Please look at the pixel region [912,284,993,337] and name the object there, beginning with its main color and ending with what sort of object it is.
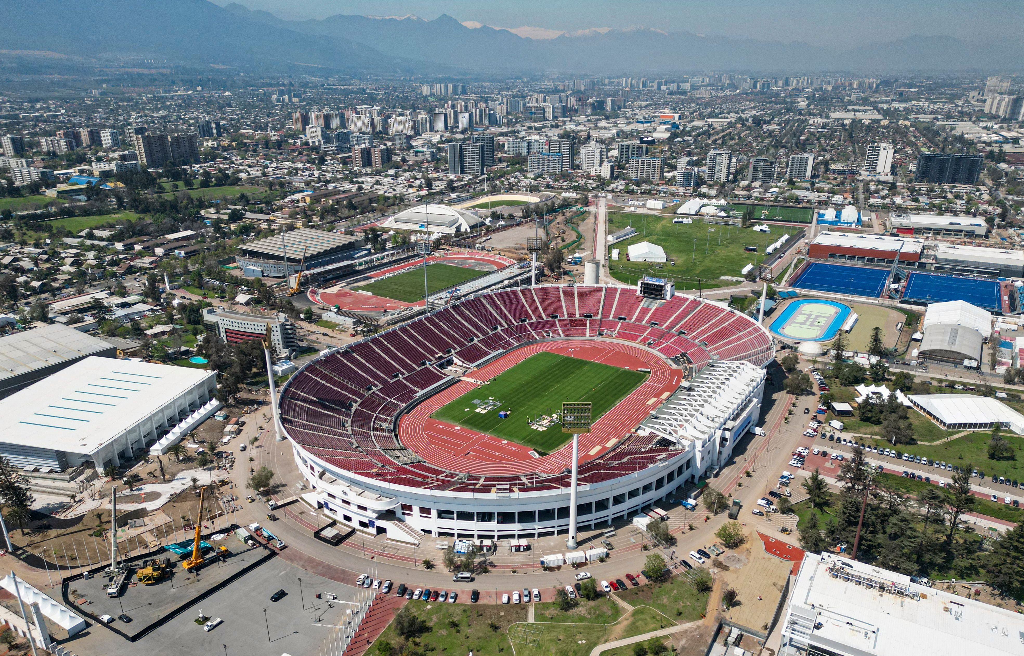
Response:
white tent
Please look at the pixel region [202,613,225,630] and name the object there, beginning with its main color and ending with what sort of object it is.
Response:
white vehicle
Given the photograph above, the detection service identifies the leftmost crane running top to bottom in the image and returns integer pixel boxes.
[102,482,140,592]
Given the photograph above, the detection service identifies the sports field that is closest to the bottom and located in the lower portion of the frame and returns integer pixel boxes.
[431,351,649,452]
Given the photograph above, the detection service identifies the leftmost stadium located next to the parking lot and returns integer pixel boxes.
[279,285,776,550]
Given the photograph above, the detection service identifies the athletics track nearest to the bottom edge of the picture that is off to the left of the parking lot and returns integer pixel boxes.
[398,340,683,477]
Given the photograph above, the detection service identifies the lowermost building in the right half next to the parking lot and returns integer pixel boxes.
[777,551,1024,656]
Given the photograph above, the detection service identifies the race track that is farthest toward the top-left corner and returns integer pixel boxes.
[433,188,571,213]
